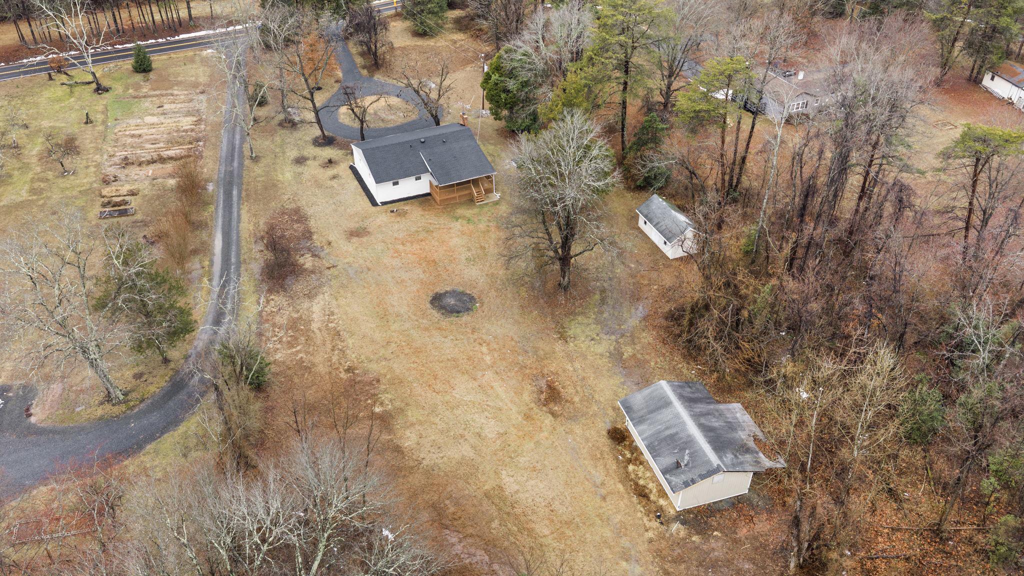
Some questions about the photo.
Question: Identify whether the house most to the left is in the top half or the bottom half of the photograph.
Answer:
top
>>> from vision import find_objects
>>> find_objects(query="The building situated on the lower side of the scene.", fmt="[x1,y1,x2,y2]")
[617,380,789,513]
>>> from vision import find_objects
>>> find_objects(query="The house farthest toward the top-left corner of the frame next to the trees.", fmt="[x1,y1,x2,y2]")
[348,113,503,206]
